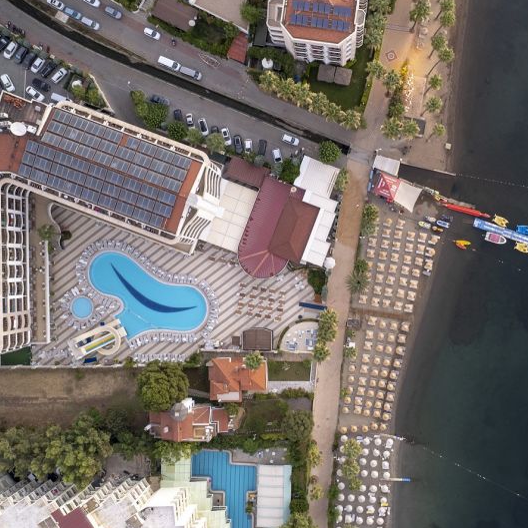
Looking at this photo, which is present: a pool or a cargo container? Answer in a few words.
pool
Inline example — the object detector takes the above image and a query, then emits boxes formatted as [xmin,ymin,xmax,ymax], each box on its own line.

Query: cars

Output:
[31,57,46,74]
[183,109,195,129]
[84,0,101,7]
[14,45,30,64]
[221,125,231,145]
[172,105,183,123]
[30,76,51,93]
[48,89,70,102]
[244,137,253,154]
[0,34,12,53]
[178,64,200,80]
[279,133,302,146]
[4,41,20,59]
[232,133,242,153]
[197,116,209,138]
[257,137,267,157]
[62,5,82,20]
[22,51,38,68]
[40,59,58,79]
[0,73,16,91]
[210,120,220,138]
[25,84,44,102]
[102,4,124,20]
[52,66,68,84]
[271,146,282,164]
[142,26,161,40]
[156,55,179,70]
[78,14,101,30]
